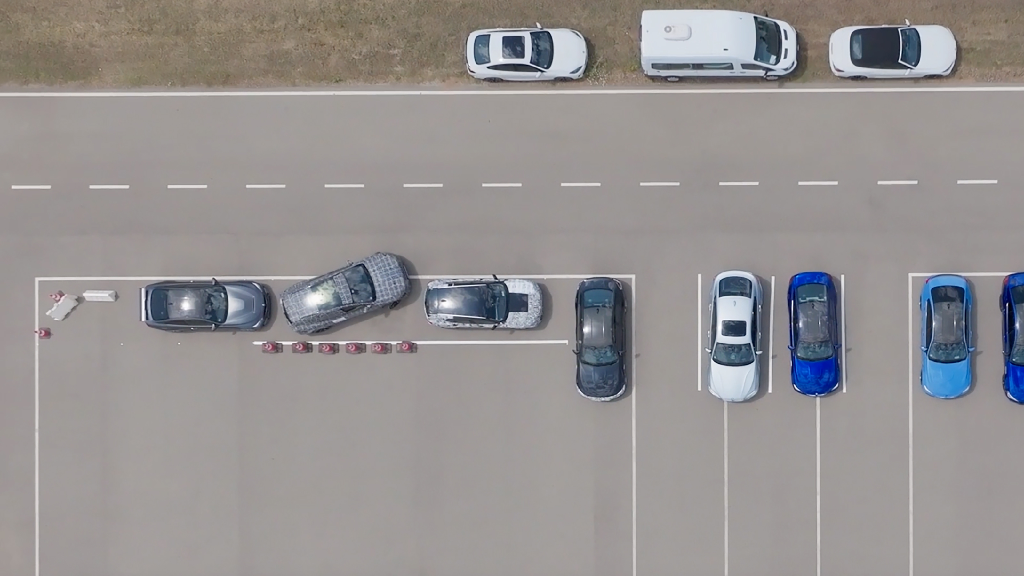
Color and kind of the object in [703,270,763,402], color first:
white car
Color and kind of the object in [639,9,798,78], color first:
white van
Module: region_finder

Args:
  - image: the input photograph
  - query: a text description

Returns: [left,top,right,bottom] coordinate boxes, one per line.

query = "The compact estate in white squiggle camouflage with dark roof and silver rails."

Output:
[423,272,544,333]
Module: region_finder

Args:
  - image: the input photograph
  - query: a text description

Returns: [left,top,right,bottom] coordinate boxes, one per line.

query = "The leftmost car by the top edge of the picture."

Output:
[465,20,589,83]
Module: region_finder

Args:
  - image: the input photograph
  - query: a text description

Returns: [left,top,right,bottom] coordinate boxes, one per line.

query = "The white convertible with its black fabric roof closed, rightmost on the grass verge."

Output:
[829,18,956,80]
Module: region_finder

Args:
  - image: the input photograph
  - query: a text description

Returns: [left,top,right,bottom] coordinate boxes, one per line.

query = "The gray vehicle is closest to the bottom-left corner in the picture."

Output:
[139,275,274,335]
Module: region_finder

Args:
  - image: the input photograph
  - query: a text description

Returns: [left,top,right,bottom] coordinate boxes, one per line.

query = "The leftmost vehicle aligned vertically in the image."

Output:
[569,276,629,402]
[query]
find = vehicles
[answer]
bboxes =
[465,20,589,83]
[639,9,798,78]
[139,275,274,335]
[918,274,978,400]
[279,252,413,335]
[423,272,544,333]
[785,271,845,397]
[703,270,763,402]
[1000,272,1024,404]
[569,276,629,402]
[829,18,956,80]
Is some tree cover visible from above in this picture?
No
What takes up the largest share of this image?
paved ground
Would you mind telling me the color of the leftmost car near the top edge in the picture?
white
